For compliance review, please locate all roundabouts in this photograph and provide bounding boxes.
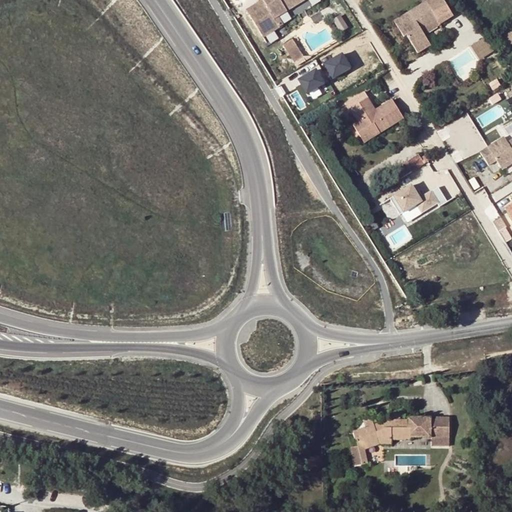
[216,294,318,398]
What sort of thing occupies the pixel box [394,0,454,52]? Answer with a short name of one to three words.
house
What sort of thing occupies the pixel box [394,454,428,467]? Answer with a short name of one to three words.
swimming pool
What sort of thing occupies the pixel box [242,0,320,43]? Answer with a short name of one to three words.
house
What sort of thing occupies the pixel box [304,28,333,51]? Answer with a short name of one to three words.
swimming pool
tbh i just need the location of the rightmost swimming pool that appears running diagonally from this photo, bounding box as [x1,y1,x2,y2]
[475,104,505,129]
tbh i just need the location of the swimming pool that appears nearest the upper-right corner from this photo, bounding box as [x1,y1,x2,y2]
[450,48,477,74]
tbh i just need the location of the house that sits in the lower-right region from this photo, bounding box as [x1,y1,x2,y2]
[350,416,450,467]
